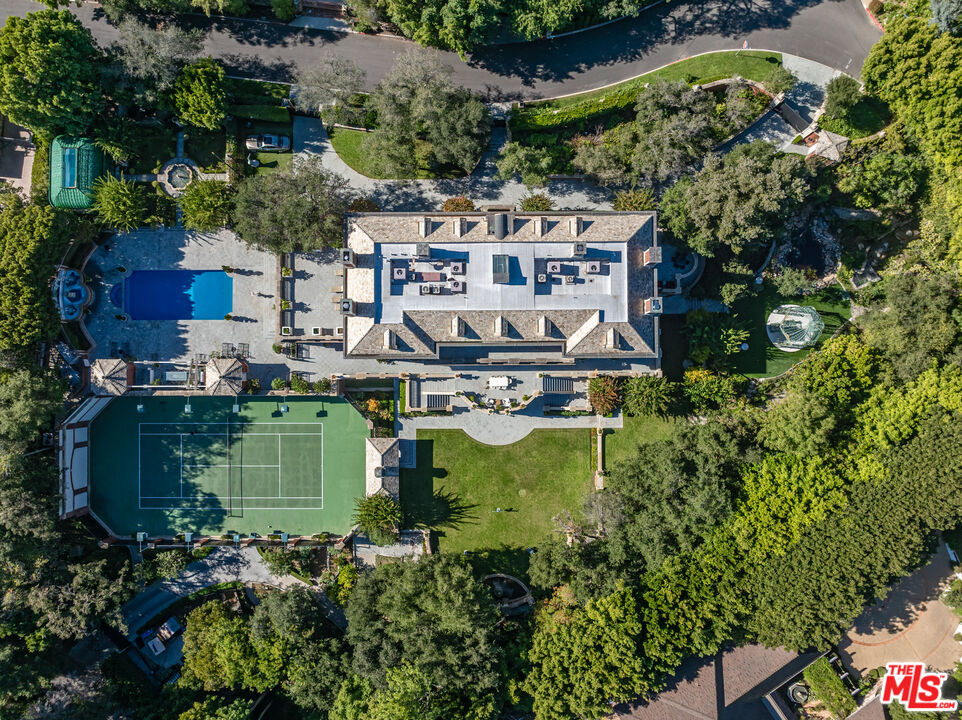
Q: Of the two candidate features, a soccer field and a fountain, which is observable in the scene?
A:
fountain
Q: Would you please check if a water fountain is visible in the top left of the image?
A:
Yes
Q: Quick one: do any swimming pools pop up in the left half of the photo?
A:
Yes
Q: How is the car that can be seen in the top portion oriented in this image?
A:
from side to side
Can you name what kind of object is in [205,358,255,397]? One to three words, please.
building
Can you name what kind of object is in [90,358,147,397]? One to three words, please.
building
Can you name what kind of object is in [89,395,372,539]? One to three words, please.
tennis court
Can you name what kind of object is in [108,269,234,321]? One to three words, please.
swimming pool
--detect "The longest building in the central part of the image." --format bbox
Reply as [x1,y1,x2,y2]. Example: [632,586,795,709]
[340,203,662,365]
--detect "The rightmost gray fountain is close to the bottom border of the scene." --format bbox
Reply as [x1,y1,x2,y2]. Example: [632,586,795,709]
[786,681,809,704]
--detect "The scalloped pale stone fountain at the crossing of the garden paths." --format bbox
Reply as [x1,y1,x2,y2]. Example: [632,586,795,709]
[166,164,194,191]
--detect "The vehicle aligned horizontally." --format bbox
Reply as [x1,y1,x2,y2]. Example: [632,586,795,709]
[248,132,290,152]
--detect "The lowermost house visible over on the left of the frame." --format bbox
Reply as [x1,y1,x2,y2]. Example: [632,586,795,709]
[365,438,401,504]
